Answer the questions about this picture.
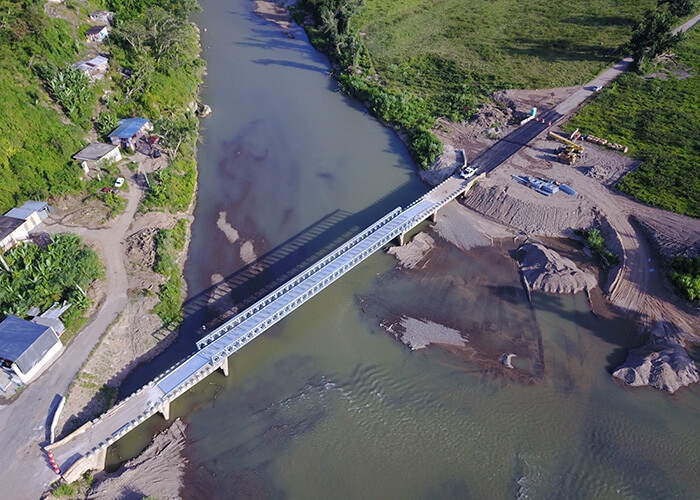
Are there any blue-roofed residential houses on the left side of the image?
Yes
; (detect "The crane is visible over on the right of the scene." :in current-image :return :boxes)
[539,133,587,168]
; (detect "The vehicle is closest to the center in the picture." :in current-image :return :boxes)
[460,166,479,179]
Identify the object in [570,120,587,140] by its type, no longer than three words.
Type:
vehicle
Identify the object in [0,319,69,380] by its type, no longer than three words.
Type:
house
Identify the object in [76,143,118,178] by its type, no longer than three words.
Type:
house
